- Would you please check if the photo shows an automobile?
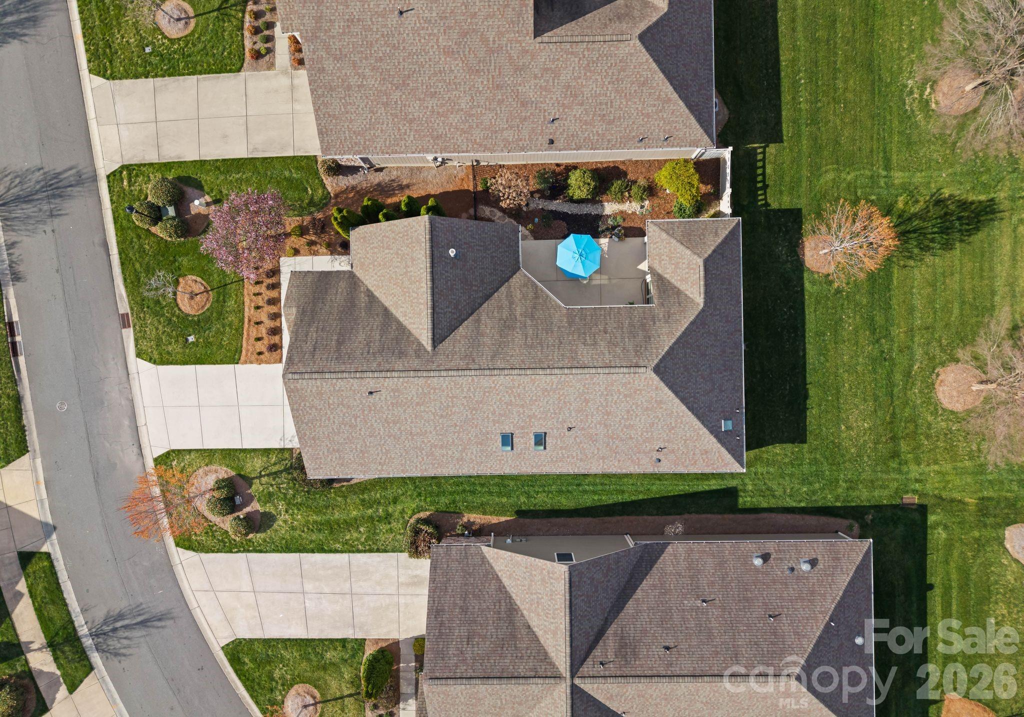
No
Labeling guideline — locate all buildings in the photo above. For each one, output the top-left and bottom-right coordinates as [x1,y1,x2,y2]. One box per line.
[282,215,747,481]
[276,0,718,174]
[417,529,876,717]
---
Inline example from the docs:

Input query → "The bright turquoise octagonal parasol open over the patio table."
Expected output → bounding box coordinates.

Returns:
[556,234,601,277]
